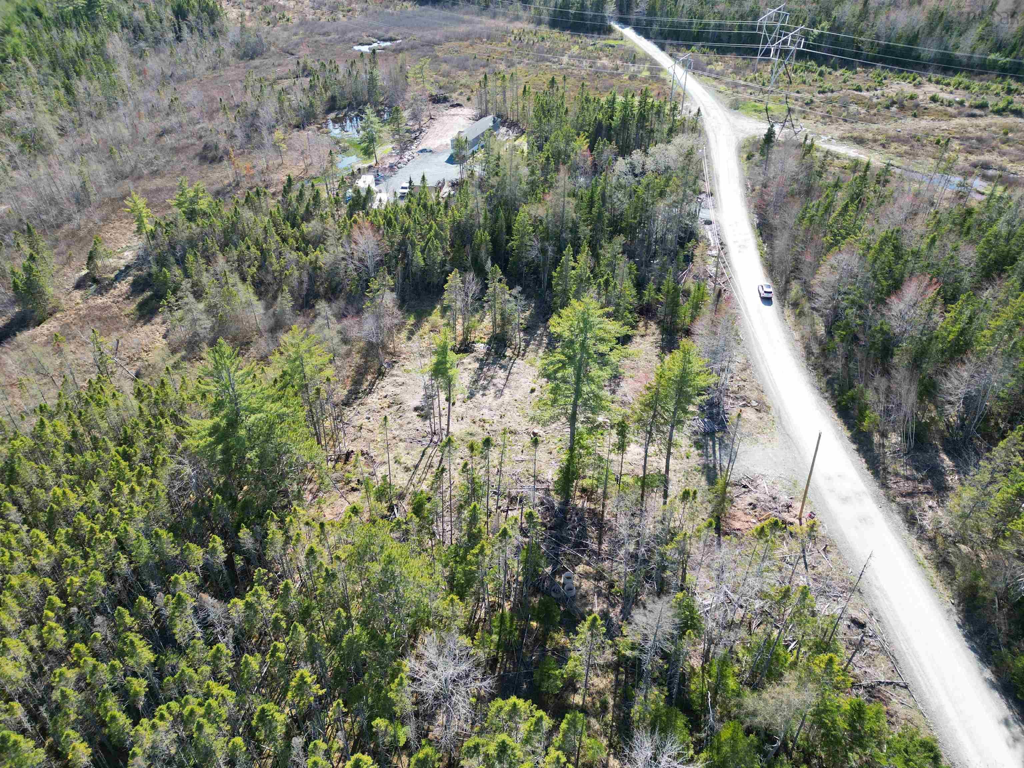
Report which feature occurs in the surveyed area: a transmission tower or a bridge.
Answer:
transmission tower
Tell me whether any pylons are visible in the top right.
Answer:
Yes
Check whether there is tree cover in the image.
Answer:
Yes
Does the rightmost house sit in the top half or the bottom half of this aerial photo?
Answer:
top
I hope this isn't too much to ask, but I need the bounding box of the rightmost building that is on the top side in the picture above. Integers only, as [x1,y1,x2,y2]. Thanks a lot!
[436,115,501,157]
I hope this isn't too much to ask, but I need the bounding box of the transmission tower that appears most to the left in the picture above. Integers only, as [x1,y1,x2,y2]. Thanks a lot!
[661,49,700,137]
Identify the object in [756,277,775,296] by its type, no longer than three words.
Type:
car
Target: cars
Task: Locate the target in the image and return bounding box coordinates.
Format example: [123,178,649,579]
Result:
[398,179,411,195]
[756,277,775,296]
